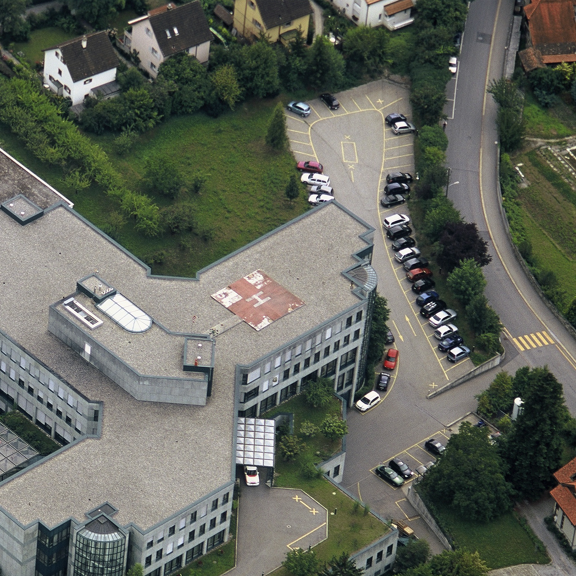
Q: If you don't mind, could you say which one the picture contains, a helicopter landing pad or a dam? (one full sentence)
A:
Looking from above, you can make out a helicopter landing pad.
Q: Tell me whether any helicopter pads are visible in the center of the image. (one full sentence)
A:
Yes, in the center of the image there is a helicopter pad.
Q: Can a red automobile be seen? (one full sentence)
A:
Yes, looking at the shot, I can spot a red automobile.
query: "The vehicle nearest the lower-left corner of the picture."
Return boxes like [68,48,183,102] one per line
[245,469,260,489]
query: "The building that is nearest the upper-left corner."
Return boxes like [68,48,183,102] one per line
[45,31,120,101]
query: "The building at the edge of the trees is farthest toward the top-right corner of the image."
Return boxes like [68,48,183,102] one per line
[509,0,576,80]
